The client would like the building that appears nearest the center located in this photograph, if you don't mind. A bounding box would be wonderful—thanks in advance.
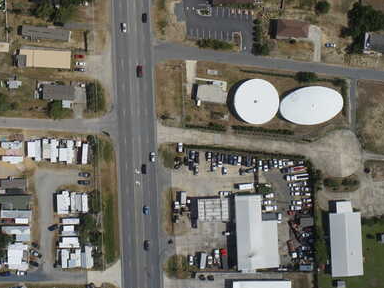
[196,84,229,104]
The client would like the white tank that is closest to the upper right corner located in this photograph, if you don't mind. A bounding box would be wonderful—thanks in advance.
[277,86,343,124]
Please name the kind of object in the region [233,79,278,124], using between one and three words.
water tank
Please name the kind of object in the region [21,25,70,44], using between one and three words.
house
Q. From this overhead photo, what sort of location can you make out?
residential area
